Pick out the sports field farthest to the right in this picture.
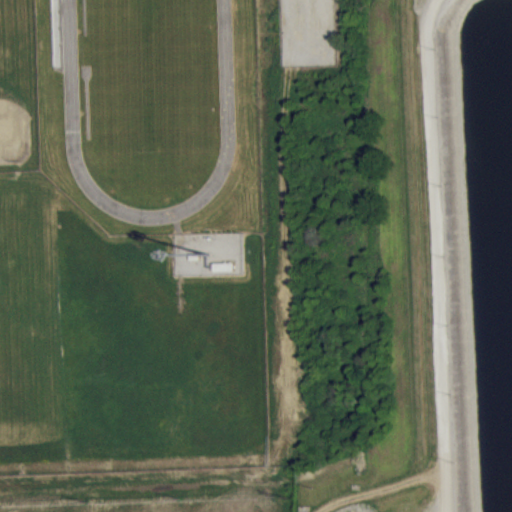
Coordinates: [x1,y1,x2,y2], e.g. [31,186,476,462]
[76,0,220,209]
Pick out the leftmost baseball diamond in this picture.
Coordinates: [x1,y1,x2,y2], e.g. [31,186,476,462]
[0,100,30,165]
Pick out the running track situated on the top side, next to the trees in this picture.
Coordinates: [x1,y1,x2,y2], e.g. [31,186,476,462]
[61,0,236,225]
